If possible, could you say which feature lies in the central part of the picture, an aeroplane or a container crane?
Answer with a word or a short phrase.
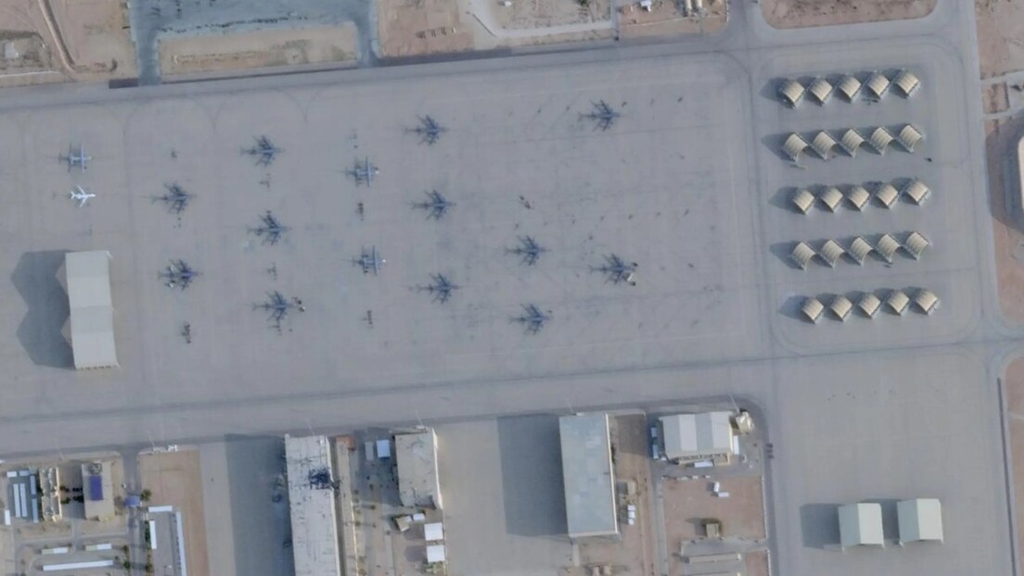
aeroplane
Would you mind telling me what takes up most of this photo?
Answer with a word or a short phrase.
paved ground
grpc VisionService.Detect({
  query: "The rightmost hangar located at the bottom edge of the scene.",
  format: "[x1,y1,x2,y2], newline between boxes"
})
[897,500,945,549]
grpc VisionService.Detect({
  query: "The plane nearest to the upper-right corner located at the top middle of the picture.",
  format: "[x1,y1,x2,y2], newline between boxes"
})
[586,100,621,131]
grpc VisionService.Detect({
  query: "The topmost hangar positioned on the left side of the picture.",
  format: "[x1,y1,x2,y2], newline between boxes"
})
[66,251,123,373]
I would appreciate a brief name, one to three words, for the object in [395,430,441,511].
hangar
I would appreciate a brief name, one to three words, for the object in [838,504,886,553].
hangar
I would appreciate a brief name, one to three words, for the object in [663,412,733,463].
building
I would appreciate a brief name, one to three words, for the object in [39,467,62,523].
building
